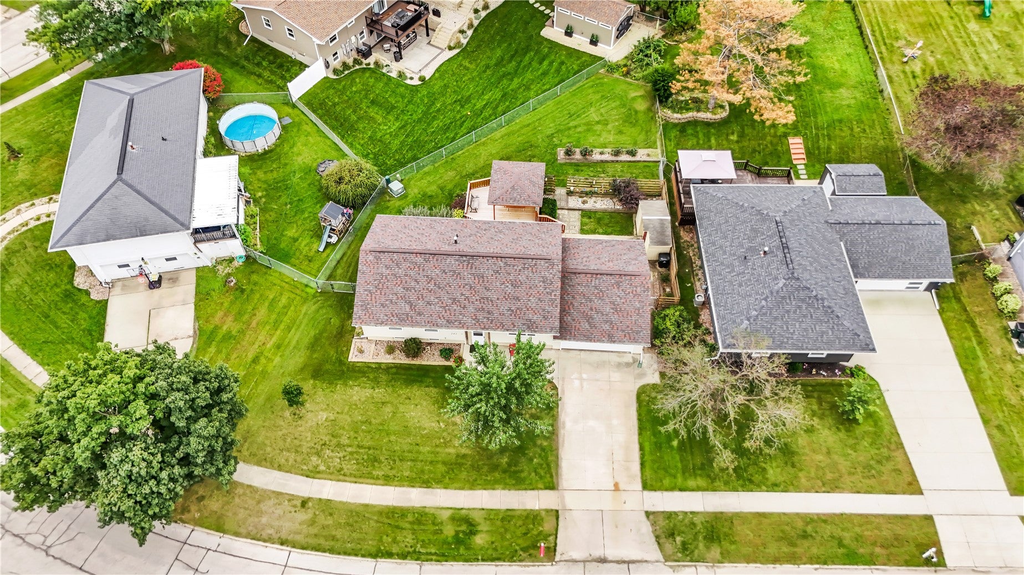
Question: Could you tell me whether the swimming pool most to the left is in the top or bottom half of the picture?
top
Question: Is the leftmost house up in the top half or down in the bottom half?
top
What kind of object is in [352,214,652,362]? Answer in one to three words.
house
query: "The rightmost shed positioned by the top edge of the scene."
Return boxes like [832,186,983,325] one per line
[552,0,637,49]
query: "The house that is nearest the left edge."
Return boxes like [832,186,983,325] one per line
[46,67,247,286]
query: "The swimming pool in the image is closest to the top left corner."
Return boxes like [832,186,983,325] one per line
[219,101,284,153]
